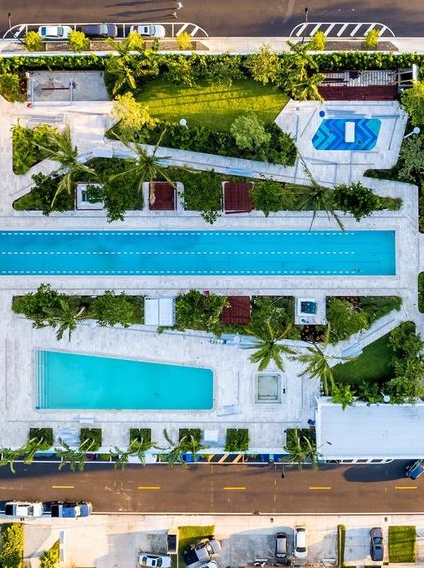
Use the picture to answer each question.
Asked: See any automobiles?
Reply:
Yes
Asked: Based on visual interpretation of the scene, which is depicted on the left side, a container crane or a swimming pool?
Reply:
swimming pool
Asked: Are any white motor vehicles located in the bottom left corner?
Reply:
Yes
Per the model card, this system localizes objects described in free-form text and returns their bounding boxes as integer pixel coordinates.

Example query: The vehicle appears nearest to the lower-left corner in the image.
[4,500,44,518]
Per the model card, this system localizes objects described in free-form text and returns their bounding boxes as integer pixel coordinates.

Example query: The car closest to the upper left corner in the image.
[38,24,73,40]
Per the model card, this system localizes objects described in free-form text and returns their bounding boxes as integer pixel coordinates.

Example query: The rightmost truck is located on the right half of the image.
[399,459,424,483]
